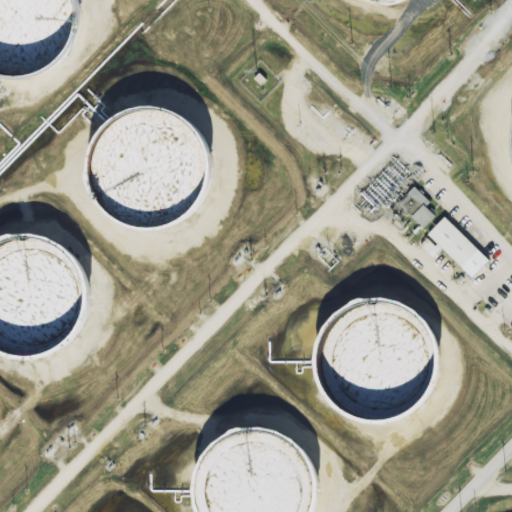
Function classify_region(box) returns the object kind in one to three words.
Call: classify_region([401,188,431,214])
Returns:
building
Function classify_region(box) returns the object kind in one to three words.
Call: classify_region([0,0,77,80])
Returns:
storage tank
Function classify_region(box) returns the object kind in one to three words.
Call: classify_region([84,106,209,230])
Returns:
storage tank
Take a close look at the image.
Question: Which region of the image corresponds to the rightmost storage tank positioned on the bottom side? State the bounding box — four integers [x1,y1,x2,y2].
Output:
[313,298,439,423]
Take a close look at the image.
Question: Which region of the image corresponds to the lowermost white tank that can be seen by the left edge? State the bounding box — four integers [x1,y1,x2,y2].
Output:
[0,234,86,358]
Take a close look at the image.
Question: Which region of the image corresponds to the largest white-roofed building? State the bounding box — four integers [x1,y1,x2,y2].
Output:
[428,217,489,278]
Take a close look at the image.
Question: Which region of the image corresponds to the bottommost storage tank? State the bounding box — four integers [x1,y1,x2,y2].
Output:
[191,426,316,512]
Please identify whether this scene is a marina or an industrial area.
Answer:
industrial area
